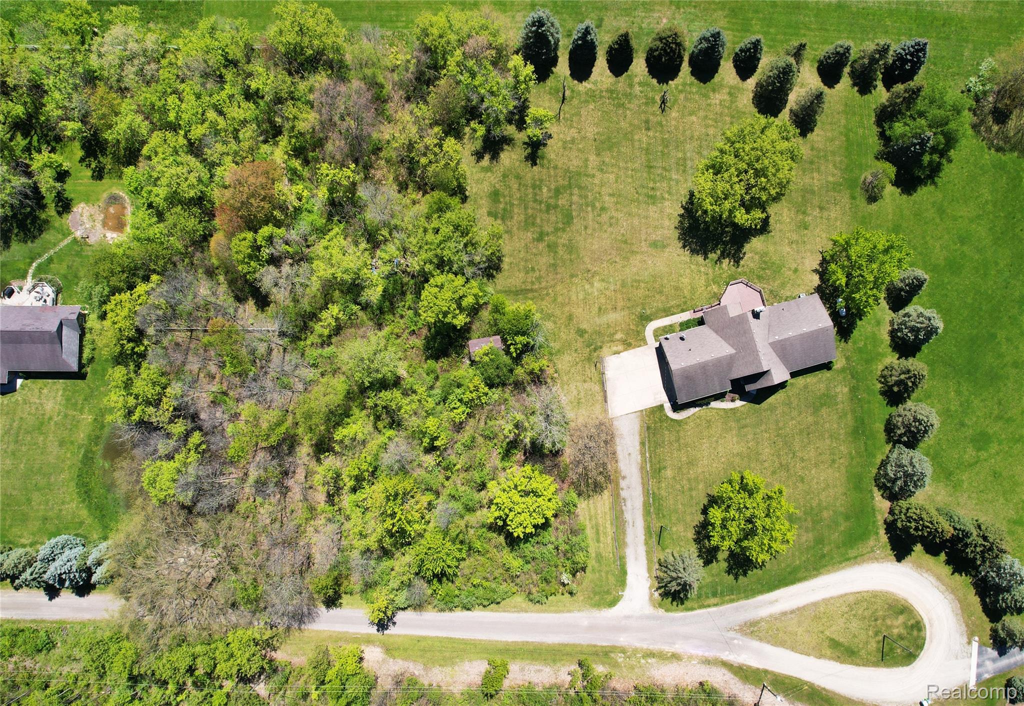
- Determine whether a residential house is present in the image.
Yes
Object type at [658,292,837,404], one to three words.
house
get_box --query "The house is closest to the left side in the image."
[0,305,91,384]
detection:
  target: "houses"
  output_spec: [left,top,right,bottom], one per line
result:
[658,292,837,404]
[0,305,91,384]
